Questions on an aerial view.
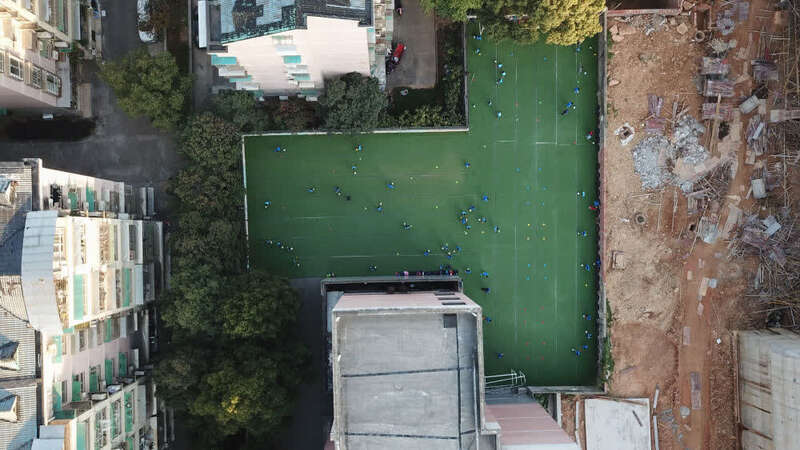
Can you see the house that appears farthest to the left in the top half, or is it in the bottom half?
top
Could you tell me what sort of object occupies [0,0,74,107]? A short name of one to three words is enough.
house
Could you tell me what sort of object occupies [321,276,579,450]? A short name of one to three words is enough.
building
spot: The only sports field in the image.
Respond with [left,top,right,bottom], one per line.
[248,0,593,392]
